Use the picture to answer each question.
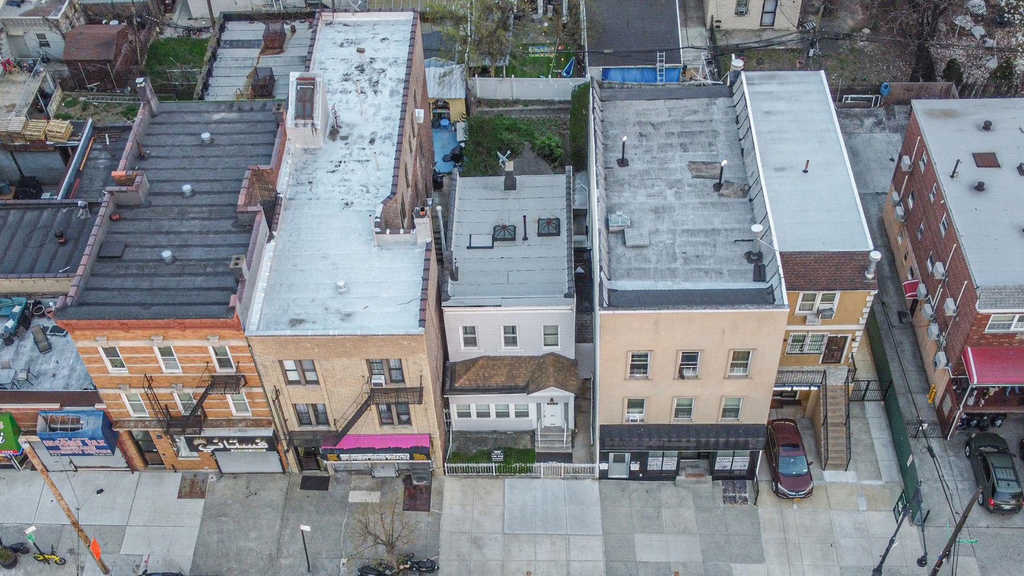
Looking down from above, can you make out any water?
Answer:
No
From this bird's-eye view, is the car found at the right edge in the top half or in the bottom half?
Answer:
bottom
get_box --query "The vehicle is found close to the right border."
[969,437,1024,519]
